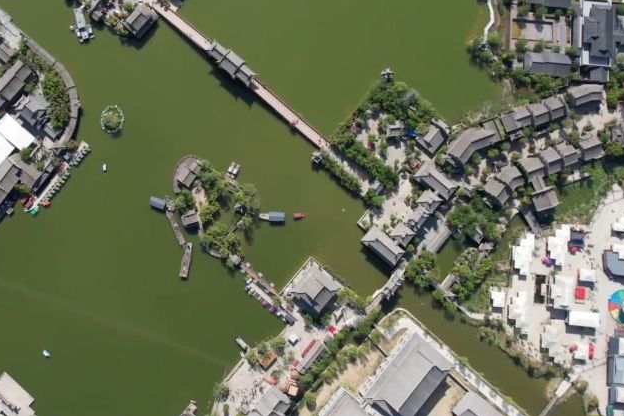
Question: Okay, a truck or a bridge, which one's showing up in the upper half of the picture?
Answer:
bridge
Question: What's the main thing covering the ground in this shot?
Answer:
water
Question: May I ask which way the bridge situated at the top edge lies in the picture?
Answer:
at an angle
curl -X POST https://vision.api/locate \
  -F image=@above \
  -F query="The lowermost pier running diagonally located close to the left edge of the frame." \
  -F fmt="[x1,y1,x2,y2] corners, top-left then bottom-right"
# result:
[29,140,86,210]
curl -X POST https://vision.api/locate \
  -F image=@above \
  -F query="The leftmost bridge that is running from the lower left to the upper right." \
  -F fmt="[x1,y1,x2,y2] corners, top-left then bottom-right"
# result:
[366,256,413,313]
